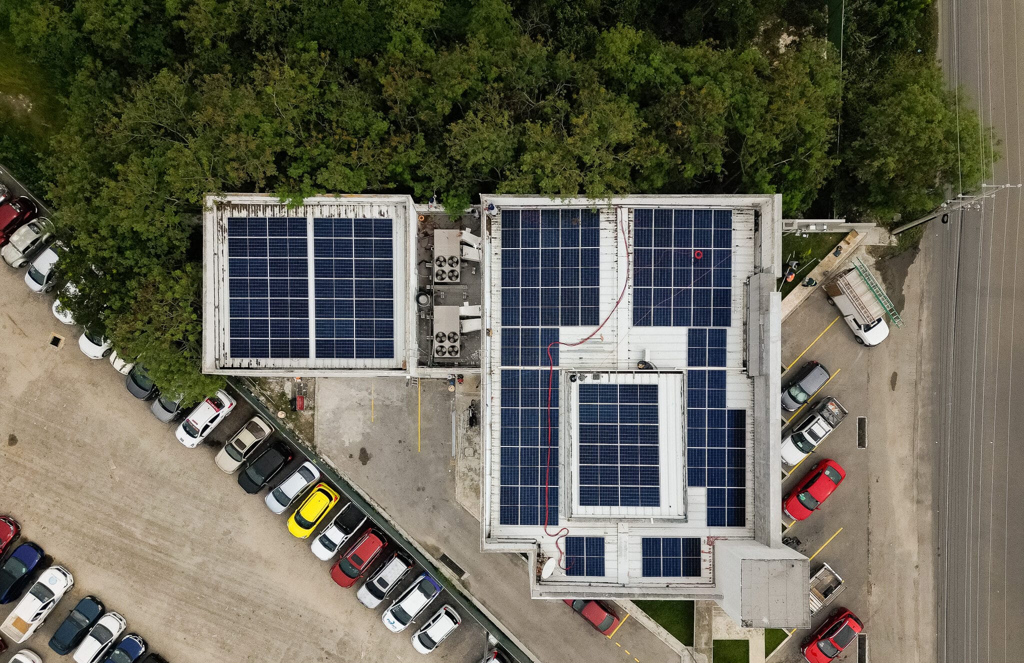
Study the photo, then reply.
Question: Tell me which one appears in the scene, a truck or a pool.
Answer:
truck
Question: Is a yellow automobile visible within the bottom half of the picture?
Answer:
Yes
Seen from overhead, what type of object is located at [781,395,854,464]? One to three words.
truck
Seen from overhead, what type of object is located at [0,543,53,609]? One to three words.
car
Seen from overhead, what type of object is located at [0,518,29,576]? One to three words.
car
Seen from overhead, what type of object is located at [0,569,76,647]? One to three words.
truck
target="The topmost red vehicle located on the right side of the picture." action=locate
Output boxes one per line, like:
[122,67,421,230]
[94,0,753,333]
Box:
[785,459,844,520]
